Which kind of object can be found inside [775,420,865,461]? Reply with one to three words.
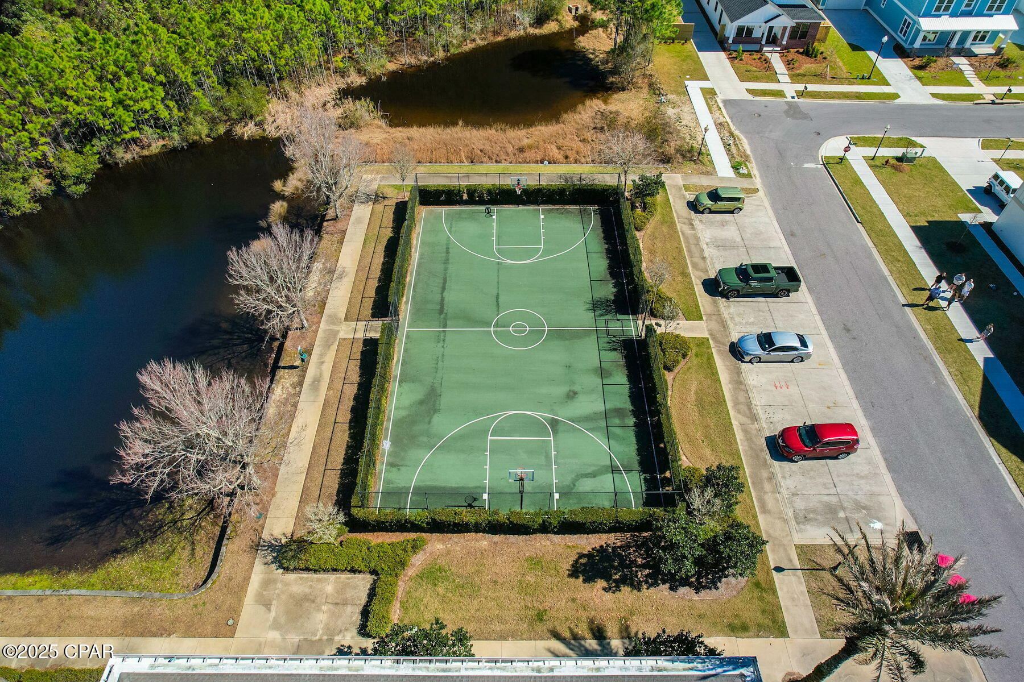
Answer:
car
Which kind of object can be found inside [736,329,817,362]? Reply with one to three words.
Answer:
car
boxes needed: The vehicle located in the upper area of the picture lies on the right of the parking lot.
[988,172,1024,209]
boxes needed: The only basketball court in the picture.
[370,204,671,512]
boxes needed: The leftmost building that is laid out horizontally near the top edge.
[705,0,827,52]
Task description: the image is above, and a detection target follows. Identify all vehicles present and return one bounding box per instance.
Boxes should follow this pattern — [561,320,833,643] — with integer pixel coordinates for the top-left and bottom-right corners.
[694,188,748,215]
[736,329,817,362]
[988,172,1024,209]
[775,420,865,461]
[716,266,806,302]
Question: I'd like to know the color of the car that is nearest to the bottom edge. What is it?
red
